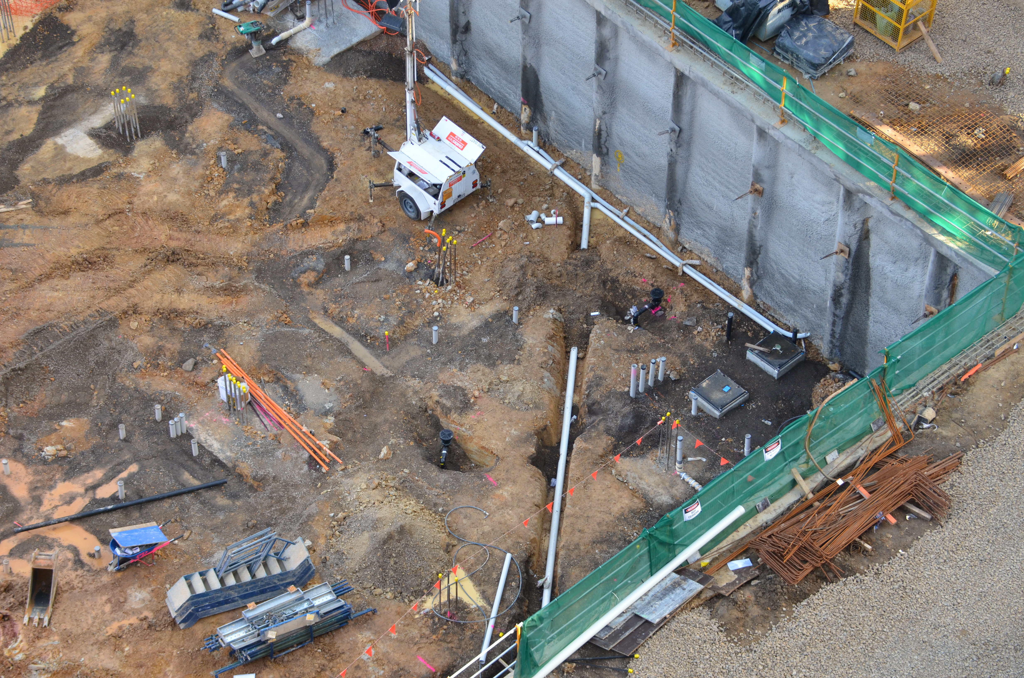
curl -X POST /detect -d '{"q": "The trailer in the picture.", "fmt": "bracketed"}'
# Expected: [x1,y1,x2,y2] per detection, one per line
[365,0,496,251]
